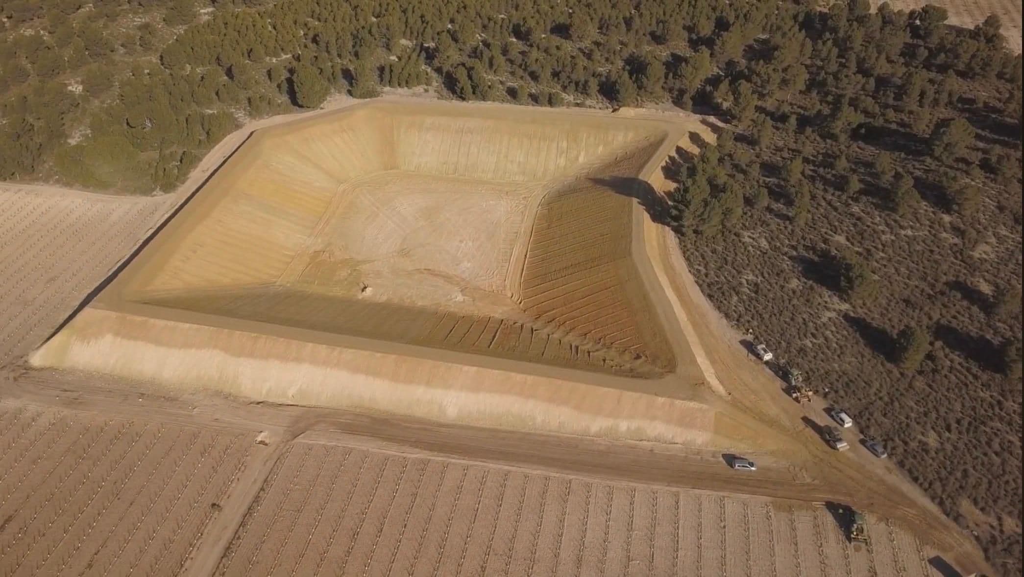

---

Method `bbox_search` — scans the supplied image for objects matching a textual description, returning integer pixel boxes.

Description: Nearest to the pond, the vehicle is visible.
[732,461,757,473]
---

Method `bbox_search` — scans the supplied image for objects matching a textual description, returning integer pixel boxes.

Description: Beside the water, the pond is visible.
[37,100,746,443]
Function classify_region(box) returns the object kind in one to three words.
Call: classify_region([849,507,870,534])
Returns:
work vehicle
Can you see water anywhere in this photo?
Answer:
Yes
